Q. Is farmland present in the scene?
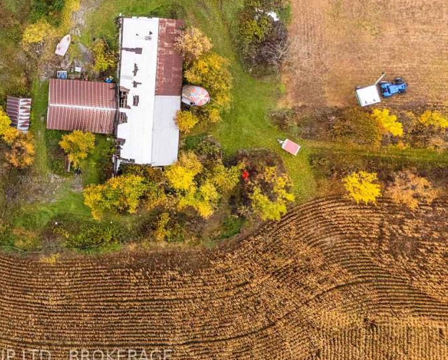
Yes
